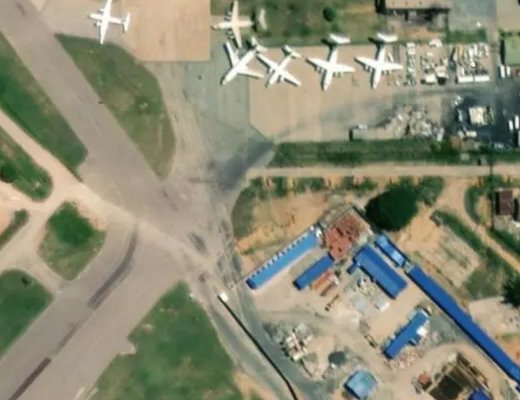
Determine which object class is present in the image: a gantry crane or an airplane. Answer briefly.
airplane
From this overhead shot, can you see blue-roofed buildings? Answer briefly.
Yes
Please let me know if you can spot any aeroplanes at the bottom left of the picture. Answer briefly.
No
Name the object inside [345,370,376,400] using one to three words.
shed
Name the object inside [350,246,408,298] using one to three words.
building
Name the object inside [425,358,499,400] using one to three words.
building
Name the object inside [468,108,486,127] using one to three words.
shed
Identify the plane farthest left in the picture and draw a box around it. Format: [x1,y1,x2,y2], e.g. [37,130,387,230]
[88,0,131,43]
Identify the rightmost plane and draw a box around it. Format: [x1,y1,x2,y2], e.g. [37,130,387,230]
[356,27,405,88]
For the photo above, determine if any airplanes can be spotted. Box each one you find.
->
[308,28,357,89]
[88,0,131,43]
[212,1,261,48]
[356,27,405,88]
[257,44,301,87]
[222,35,270,83]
